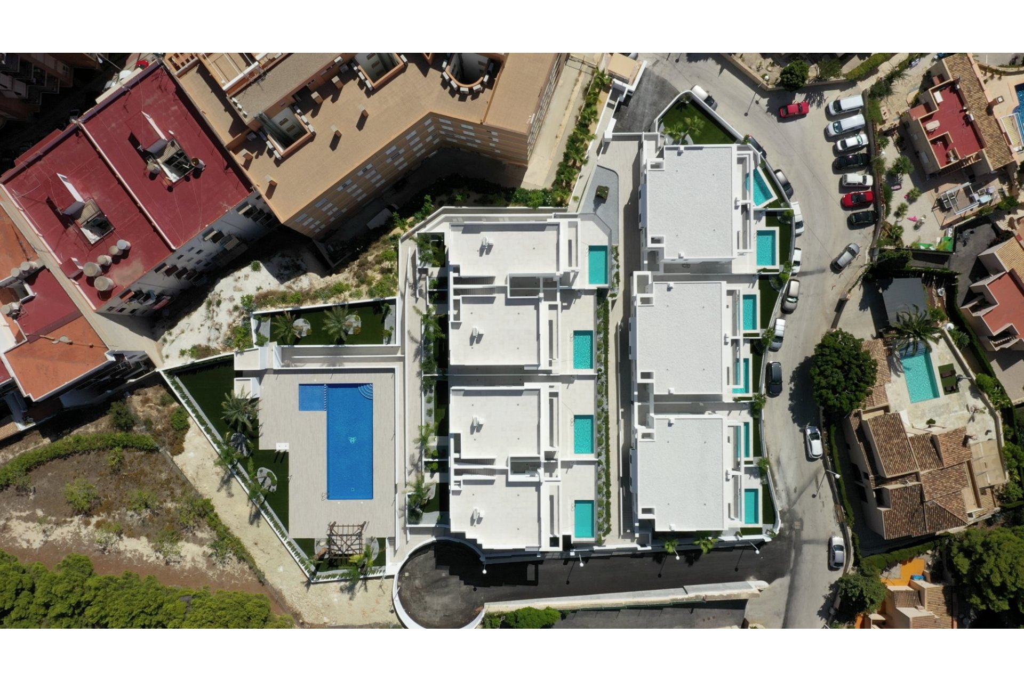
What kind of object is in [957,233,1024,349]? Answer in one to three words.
house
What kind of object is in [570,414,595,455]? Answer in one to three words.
swimming pool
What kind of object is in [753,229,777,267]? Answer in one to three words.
swimming pool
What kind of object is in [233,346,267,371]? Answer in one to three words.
building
